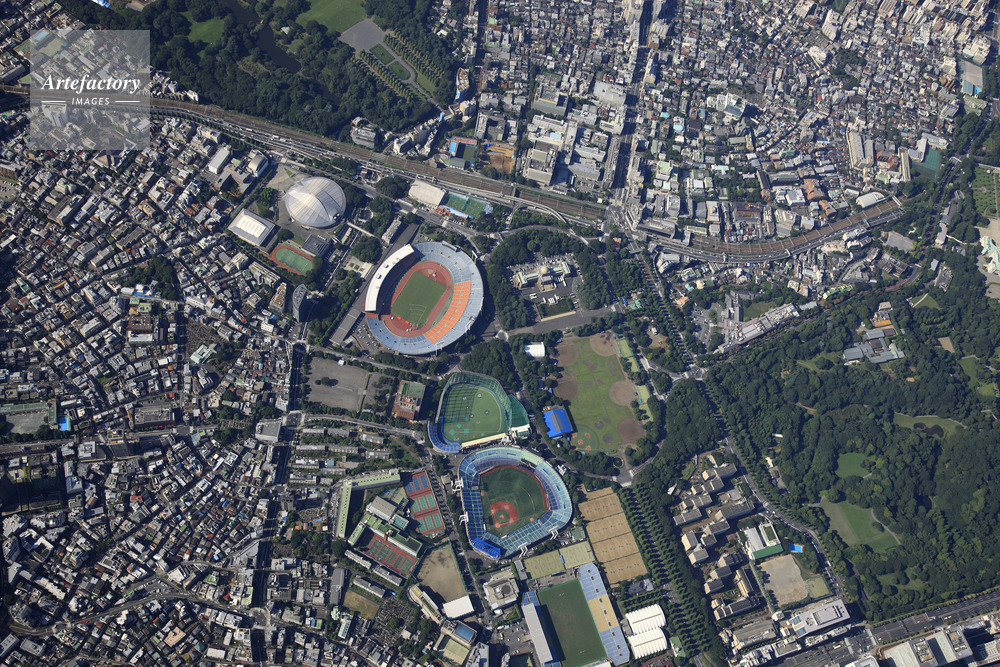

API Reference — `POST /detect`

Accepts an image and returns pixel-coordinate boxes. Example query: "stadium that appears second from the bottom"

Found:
[460,445,573,559]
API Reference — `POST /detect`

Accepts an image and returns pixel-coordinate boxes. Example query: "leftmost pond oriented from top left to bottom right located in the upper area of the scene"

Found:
[221,0,301,71]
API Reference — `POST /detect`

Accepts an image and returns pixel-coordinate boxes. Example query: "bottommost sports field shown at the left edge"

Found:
[4,413,47,433]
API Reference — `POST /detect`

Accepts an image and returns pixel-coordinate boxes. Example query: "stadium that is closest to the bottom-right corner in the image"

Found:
[521,563,626,667]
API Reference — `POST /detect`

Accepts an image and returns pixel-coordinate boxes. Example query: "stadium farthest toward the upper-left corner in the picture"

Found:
[365,238,483,357]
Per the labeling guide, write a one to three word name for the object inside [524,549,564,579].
sports court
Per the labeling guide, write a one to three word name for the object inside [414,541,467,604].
sports field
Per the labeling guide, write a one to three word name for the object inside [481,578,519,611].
building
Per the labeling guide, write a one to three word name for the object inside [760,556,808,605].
sports field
